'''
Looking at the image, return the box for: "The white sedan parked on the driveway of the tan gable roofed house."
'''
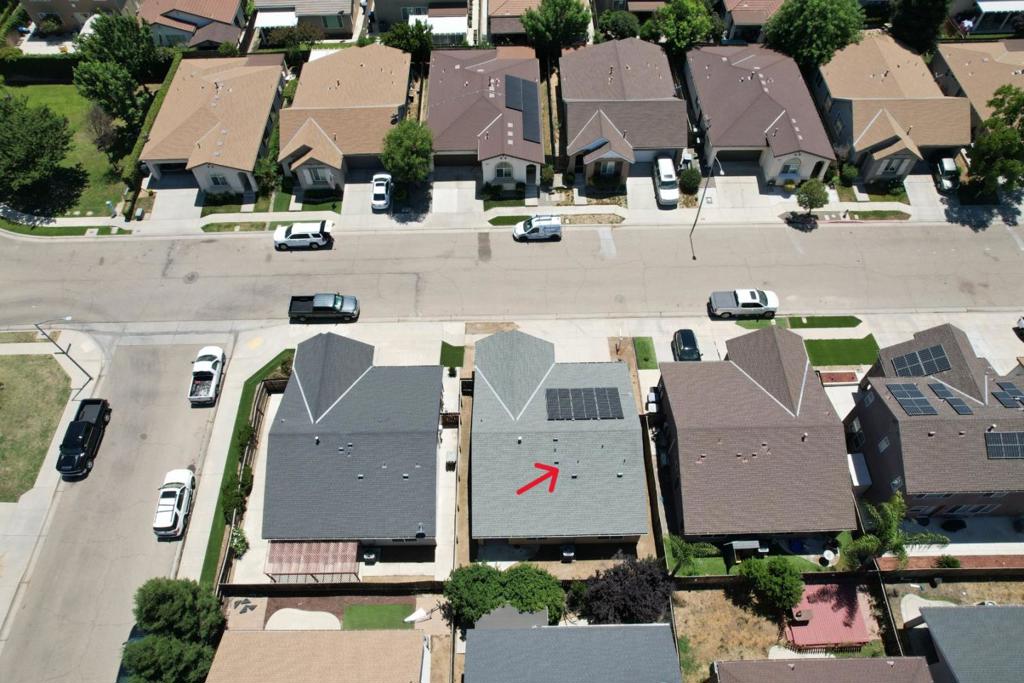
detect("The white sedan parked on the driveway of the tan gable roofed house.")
[370,175,393,212]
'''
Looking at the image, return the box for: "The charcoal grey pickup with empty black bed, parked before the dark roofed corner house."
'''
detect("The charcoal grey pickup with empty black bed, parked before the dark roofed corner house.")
[288,293,359,322]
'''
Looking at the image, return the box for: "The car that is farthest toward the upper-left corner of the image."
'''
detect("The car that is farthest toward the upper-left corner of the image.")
[270,221,331,252]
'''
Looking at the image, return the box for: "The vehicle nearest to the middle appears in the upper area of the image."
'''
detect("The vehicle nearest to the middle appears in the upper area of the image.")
[512,218,562,244]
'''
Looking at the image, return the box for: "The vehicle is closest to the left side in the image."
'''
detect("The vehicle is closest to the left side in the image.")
[59,401,110,474]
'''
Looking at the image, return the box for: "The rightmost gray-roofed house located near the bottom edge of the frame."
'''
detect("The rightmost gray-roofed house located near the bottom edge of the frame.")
[896,599,1024,683]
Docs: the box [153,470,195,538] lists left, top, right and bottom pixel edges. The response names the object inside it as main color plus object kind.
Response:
white car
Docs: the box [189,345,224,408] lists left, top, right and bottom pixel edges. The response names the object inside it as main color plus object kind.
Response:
white truck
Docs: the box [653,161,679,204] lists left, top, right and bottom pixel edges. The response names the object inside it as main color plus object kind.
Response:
white vehicle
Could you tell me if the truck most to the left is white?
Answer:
No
